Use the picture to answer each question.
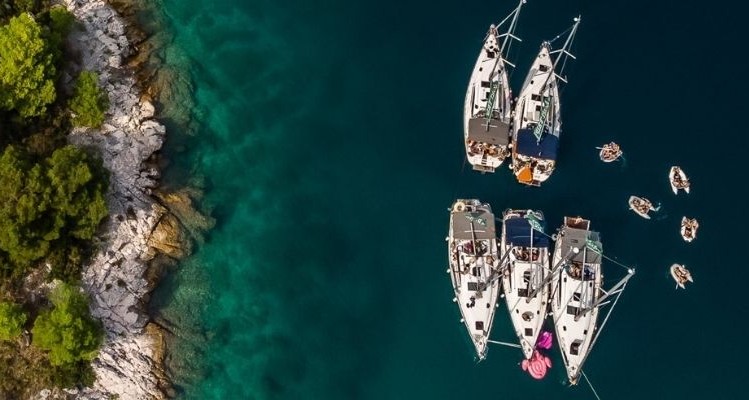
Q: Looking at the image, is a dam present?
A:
No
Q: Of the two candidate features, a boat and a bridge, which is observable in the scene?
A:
boat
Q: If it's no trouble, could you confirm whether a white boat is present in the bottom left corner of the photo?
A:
No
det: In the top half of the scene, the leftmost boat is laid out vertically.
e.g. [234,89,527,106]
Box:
[466,0,524,174]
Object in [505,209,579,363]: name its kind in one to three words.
boat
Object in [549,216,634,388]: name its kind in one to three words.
boat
